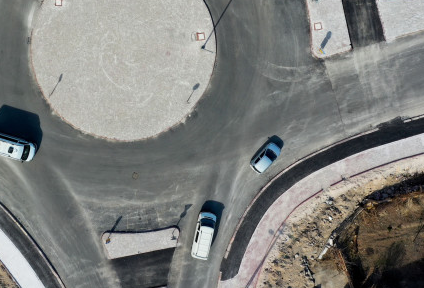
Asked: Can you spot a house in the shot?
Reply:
No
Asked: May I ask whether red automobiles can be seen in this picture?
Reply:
No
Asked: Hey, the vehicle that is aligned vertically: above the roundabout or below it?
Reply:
below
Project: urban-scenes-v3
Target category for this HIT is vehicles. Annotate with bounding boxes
[249,140,281,174]
[0,131,37,162]
[191,212,216,258]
